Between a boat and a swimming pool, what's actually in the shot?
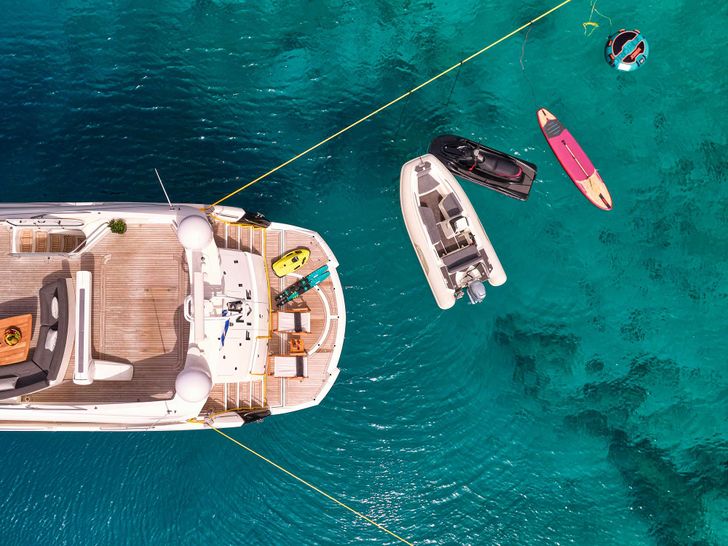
boat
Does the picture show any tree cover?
No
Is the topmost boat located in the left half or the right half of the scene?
right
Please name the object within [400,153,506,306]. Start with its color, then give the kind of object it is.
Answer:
white boat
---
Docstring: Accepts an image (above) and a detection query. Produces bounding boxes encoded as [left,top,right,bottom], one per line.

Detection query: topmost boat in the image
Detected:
[427,134,537,203]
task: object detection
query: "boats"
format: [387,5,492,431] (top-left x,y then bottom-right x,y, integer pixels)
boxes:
[427,134,537,203]
[0,169,346,432]
[400,153,506,306]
